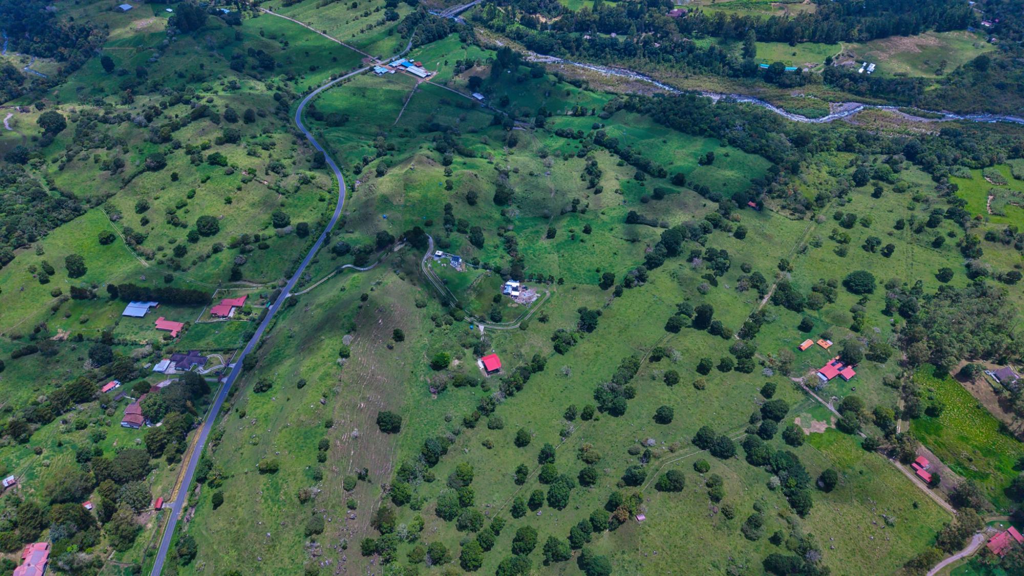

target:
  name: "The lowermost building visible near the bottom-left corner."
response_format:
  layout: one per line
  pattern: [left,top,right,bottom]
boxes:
[20,543,55,576]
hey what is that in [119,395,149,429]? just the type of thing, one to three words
house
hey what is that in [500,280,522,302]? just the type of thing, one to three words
house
